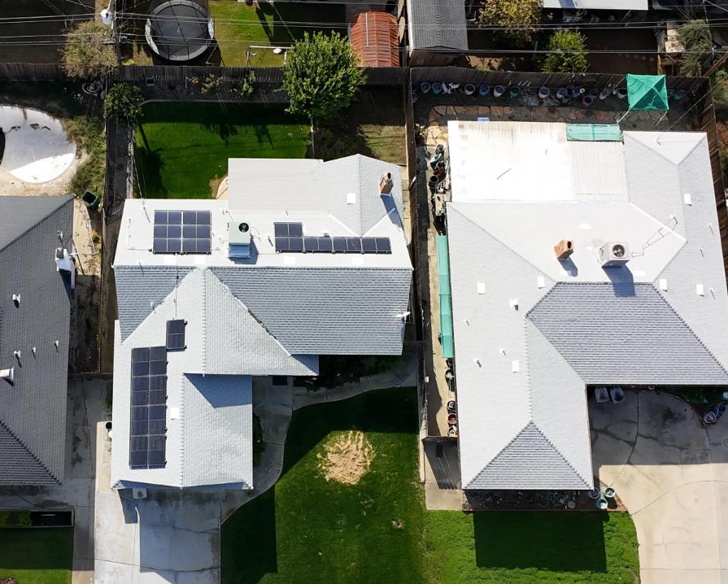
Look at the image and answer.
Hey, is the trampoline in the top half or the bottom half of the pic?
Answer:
top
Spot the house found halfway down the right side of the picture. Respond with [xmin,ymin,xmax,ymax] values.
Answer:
[438,120,728,491]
